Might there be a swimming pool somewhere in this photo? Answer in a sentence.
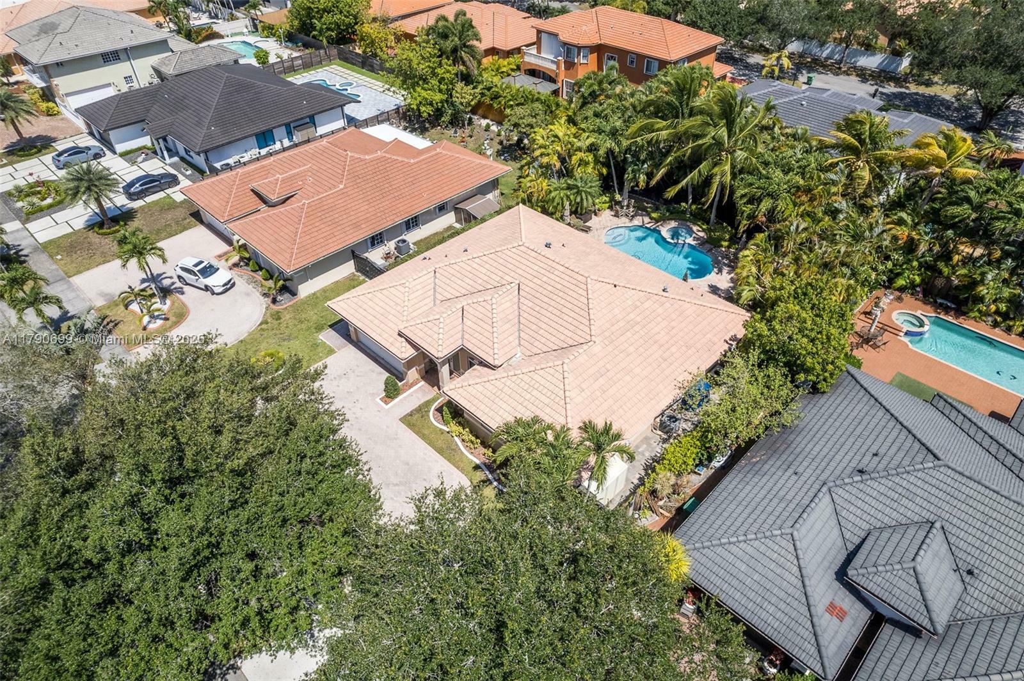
Yes, the frame does contain a swimming pool.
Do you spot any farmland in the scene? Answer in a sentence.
No, no farmland is visible.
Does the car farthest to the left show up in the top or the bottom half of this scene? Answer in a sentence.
The top half of the photo is where the car farthest to the left is.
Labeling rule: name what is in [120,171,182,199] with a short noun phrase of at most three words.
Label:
car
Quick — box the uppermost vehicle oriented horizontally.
[45,143,107,168]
